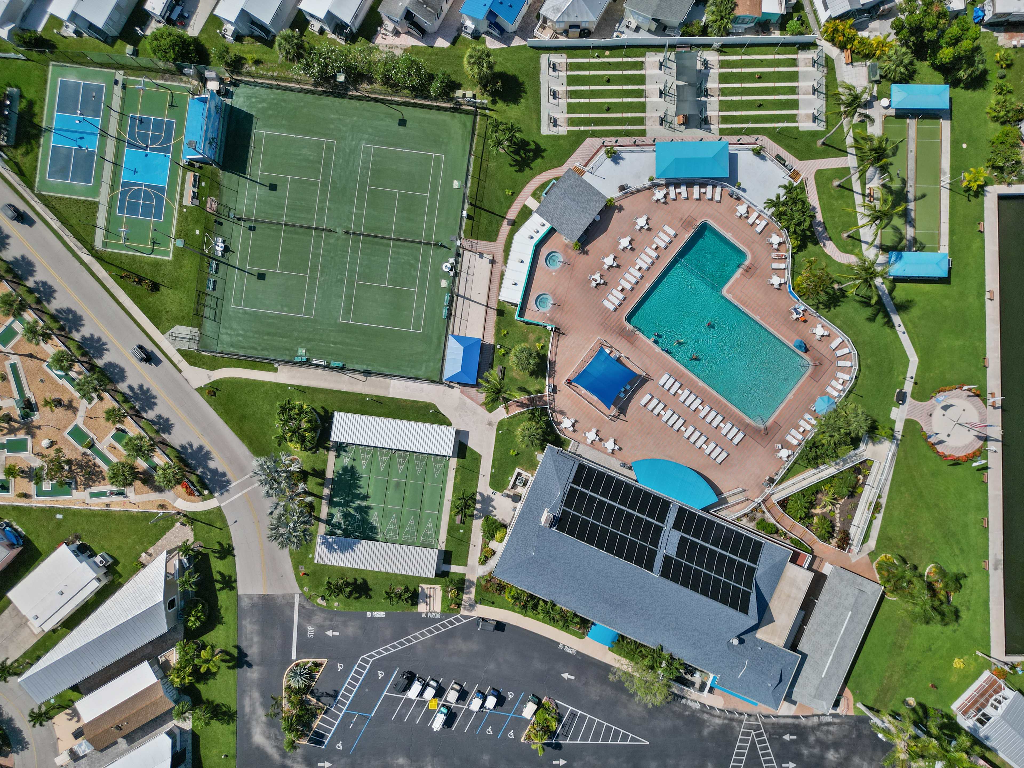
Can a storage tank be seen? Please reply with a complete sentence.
No, there isn't any storage tank down there.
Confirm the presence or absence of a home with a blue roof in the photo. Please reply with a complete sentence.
Yes, I can see a home with a blue roof in this picture.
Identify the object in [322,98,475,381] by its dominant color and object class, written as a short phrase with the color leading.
green tennis court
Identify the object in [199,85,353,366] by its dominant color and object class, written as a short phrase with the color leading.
green tennis court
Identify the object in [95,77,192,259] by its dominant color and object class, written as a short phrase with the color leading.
green sports court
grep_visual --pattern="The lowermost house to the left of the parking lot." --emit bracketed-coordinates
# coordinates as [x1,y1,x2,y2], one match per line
[105,725,181,768]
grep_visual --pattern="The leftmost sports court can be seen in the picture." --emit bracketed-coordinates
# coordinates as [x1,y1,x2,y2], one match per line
[35,64,115,199]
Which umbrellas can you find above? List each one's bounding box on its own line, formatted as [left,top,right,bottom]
[814,395,834,414]
[793,340,807,352]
